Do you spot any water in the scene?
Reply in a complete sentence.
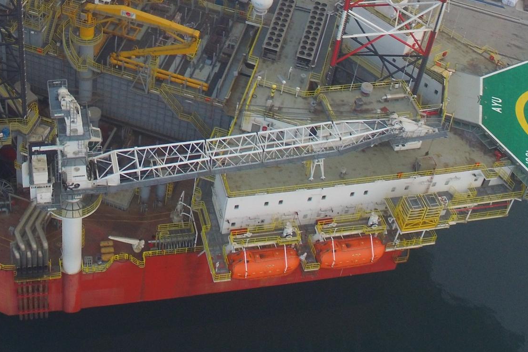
Yes, there's water in this view.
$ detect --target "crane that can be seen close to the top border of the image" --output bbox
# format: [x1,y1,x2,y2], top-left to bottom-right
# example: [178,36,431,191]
[52,0,198,110]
